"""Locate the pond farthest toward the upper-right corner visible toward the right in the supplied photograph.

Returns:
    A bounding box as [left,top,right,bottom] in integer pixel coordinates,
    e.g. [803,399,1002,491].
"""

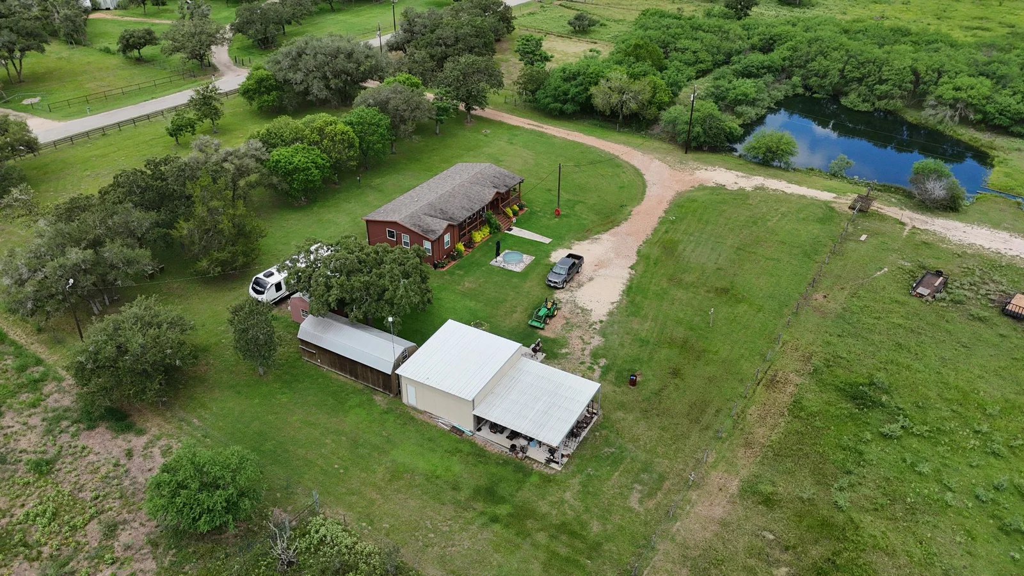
[729,98,1024,202]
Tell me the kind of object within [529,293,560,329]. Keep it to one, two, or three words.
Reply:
work vehicle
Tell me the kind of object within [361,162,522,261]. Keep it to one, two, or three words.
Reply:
house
